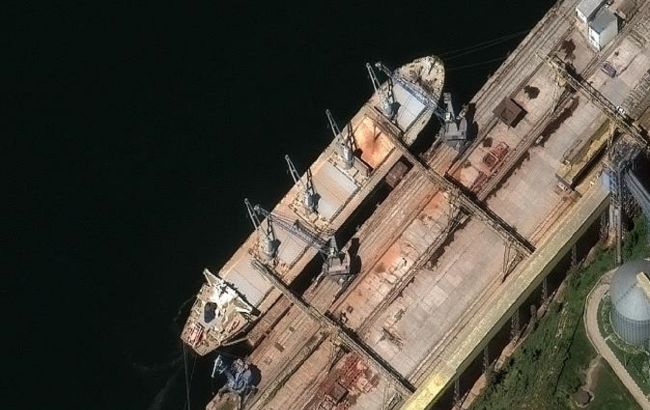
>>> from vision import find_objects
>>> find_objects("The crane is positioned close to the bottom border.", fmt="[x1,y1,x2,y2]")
[209,354,256,410]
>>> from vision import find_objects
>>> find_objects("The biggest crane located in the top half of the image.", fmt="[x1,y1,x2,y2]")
[377,62,472,167]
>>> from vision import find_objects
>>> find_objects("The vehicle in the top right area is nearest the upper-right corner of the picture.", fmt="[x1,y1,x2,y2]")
[600,60,618,76]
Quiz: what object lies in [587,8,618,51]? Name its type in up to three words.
building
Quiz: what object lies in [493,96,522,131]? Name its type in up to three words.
shed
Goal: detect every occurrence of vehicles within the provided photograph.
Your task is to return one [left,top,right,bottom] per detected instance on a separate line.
[600,60,618,76]
[536,136,547,147]
[555,180,569,192]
